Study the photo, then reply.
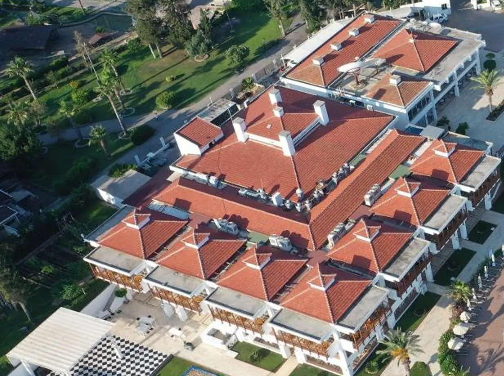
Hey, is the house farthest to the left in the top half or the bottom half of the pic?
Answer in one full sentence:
The top half of the photo is where the house farthest to the left is.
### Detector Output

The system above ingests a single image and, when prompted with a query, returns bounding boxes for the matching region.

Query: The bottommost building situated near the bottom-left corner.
[8,308,127,376]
